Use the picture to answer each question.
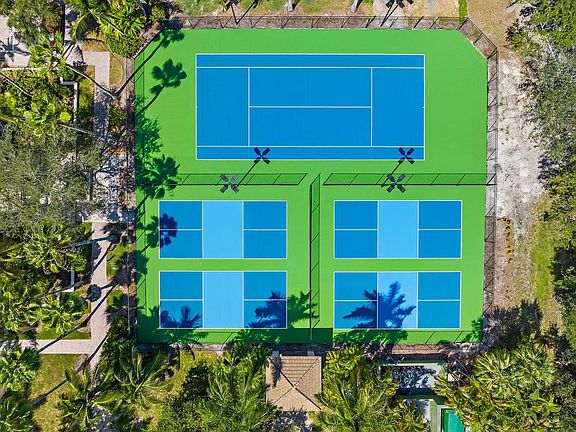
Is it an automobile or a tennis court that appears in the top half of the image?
tennis court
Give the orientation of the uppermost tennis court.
horizontally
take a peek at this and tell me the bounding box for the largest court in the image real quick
[196,54,425,160]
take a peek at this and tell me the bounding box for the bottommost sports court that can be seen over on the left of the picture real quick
[159,271,287,329]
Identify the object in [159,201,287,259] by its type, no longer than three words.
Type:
sports court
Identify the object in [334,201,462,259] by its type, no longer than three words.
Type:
sports court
